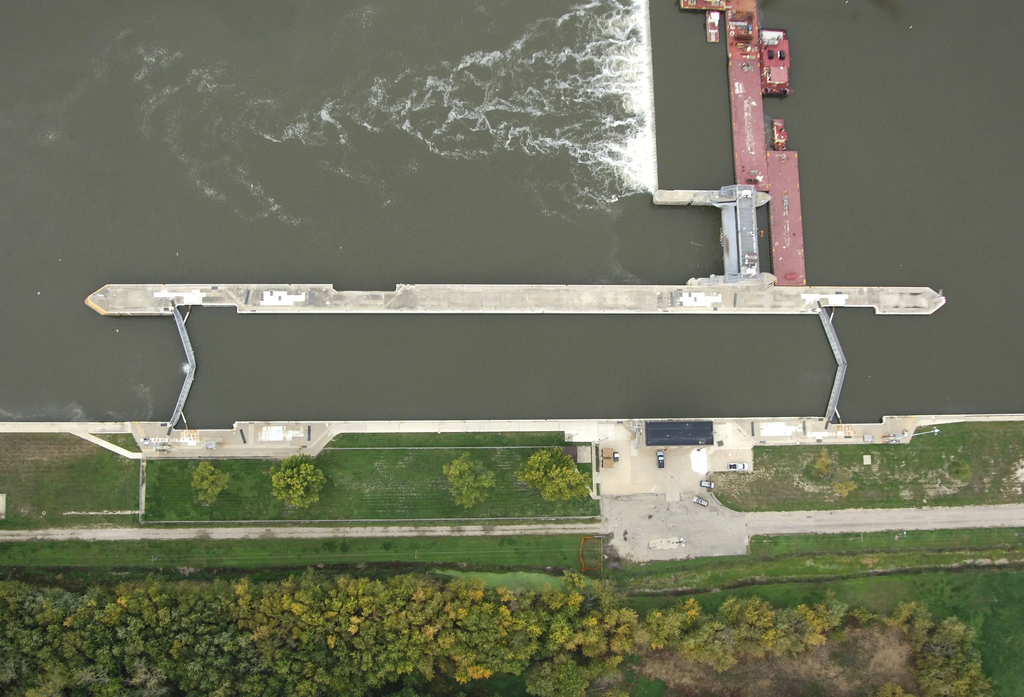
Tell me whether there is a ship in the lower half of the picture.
No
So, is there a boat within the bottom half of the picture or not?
No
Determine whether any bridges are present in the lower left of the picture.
No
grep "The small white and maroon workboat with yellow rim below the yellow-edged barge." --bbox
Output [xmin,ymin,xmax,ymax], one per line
[705,10,721,44]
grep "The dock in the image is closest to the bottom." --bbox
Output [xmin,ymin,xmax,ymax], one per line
[683,272,776,291]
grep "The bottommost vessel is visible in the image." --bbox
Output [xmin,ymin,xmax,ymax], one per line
[766,151,806,286]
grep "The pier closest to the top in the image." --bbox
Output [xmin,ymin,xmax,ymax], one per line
[650,189,772,209]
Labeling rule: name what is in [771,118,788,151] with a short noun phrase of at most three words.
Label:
boat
